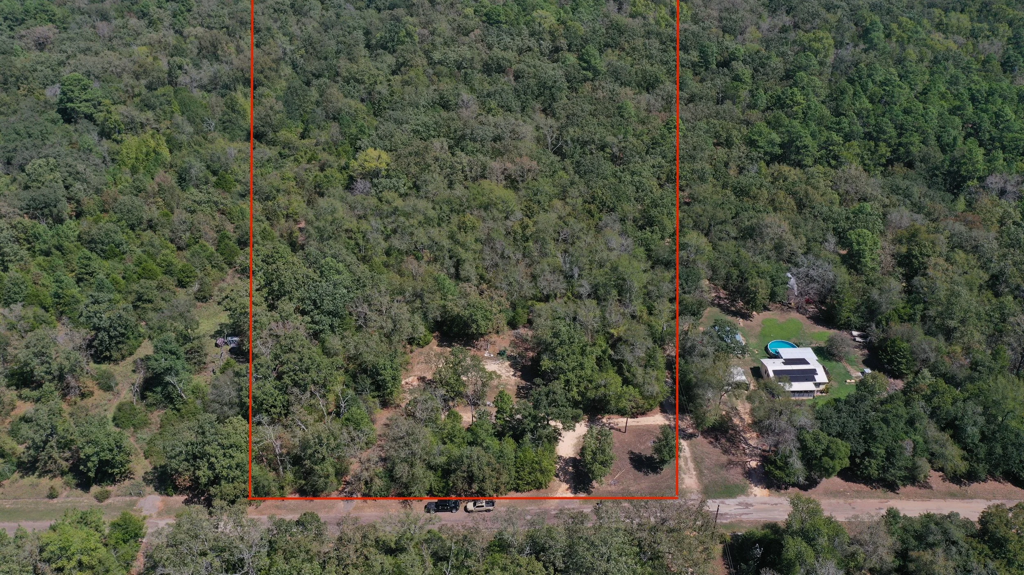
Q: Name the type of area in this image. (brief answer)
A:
forest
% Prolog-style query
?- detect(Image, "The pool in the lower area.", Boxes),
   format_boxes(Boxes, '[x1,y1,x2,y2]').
[765,340,796,359]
